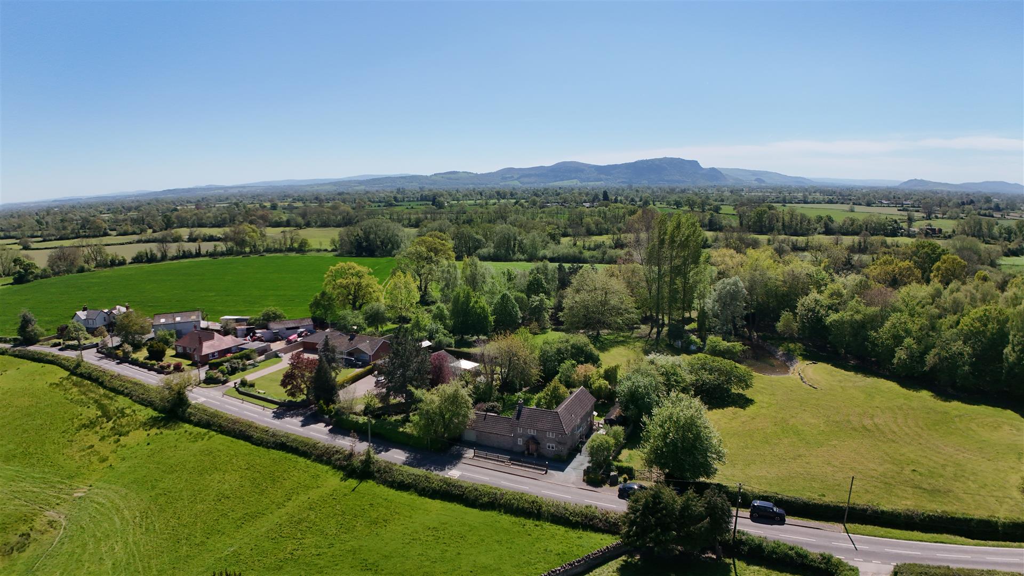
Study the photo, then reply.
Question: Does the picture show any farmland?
Yes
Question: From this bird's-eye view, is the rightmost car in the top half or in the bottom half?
bottom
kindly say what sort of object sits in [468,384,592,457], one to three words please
house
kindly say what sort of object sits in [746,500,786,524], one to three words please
car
